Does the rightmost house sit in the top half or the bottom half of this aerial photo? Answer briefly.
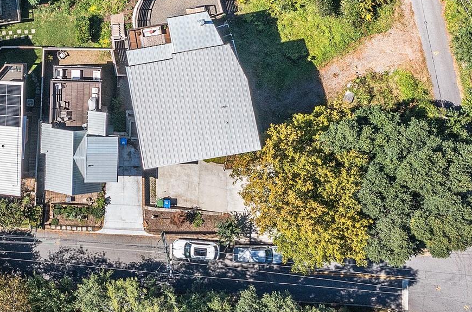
top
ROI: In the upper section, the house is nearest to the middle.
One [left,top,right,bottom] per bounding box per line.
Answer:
[126,12,260,169]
